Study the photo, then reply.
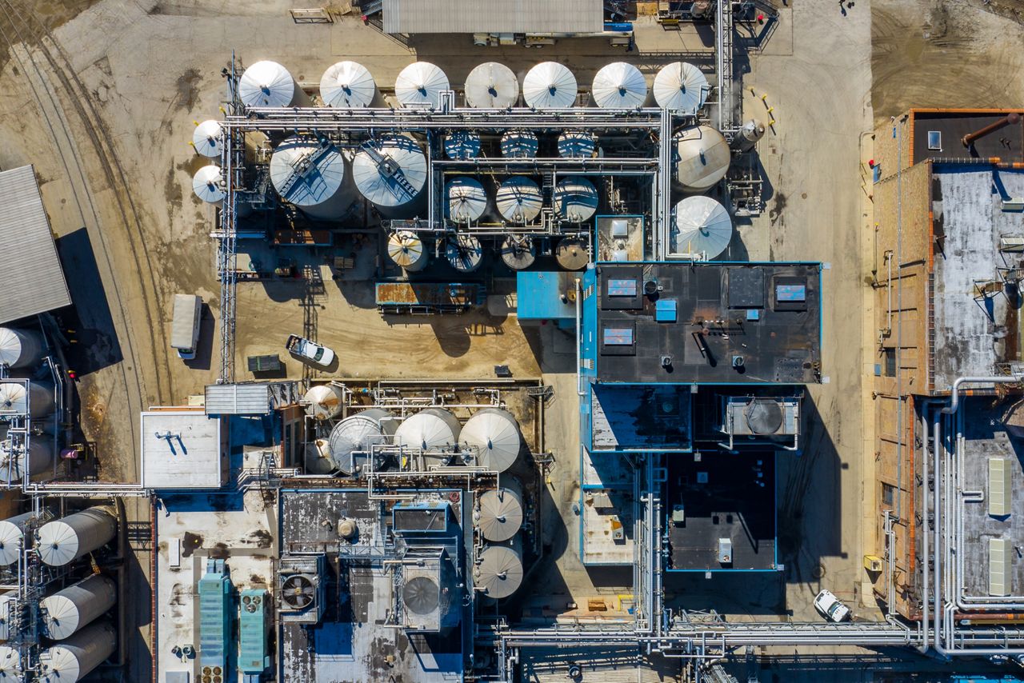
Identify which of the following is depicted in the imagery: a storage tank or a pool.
storage tank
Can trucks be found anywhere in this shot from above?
Yes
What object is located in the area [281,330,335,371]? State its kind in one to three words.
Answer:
truck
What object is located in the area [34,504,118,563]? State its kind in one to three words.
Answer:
storage tank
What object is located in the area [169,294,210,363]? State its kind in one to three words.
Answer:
truck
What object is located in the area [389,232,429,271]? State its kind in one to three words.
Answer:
storage tank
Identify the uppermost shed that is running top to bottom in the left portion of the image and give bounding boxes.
[0,164,73,325]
